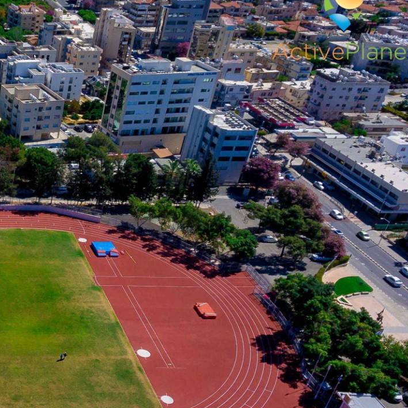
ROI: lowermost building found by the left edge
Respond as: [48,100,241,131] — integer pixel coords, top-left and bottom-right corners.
[0,81,64,141]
